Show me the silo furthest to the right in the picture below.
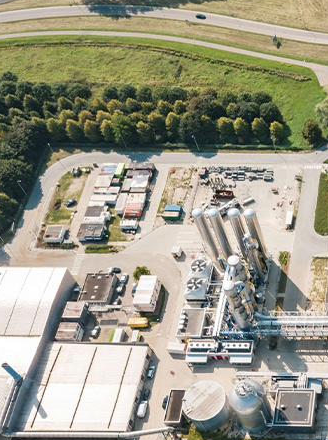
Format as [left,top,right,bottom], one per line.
[223,383,284,440]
